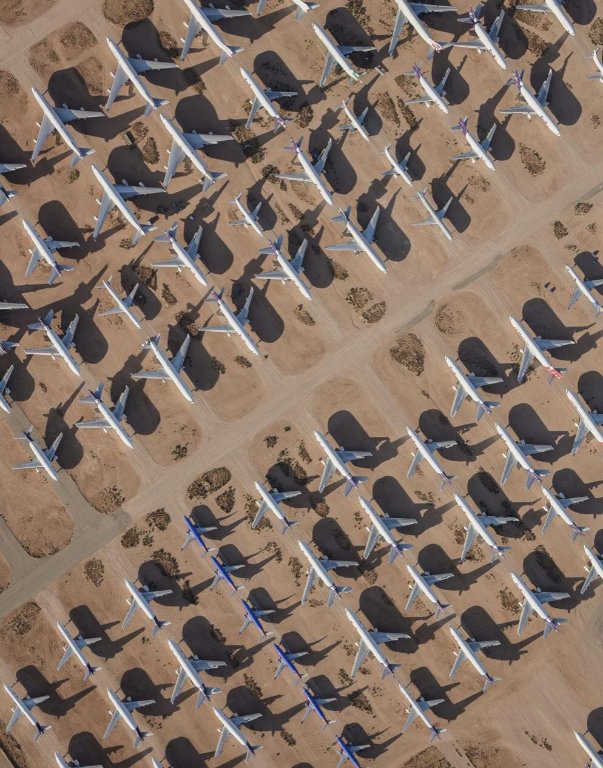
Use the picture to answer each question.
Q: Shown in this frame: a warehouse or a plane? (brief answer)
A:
plane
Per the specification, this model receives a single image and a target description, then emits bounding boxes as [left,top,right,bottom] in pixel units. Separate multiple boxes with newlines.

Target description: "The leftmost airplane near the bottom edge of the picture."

[4,684,51,740]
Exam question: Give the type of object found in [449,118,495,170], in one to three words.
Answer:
airplane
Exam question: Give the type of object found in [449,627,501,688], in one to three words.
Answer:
airplane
